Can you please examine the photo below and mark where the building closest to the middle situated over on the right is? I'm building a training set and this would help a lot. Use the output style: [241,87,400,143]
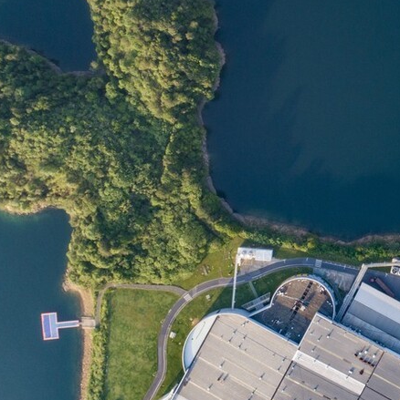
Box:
[237,247,274,261]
